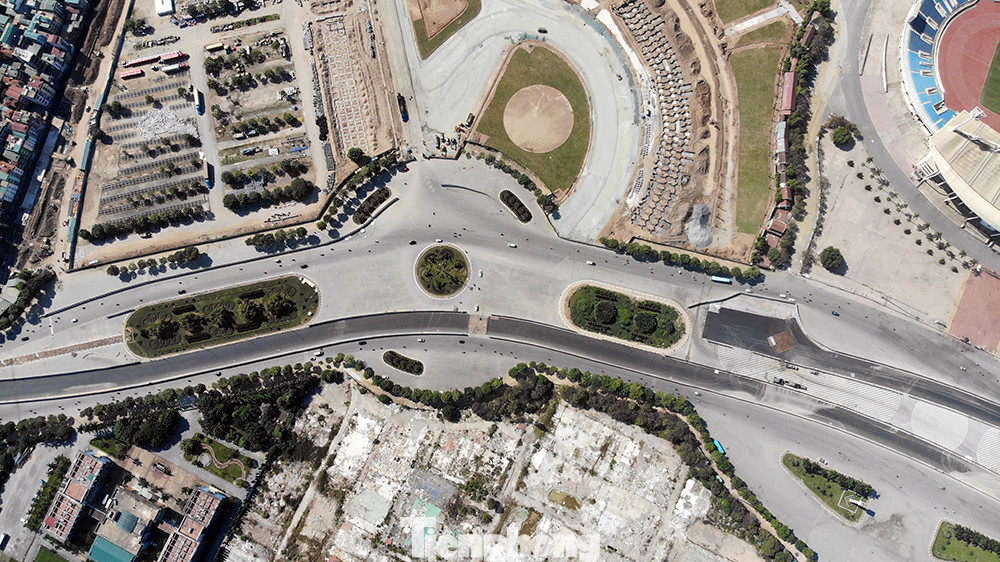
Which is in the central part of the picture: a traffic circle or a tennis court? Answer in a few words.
traffic circle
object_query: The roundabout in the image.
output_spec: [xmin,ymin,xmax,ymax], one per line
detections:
[413,242,472,300]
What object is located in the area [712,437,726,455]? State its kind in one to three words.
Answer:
vehicle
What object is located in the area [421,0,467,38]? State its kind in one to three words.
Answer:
sports field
